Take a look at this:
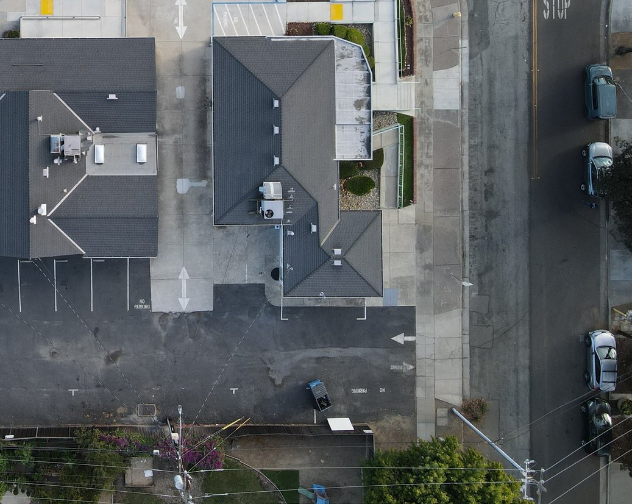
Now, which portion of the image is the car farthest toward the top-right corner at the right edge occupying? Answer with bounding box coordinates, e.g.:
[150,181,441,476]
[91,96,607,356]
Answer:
[584,63,618,119]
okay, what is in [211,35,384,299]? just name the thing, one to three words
house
